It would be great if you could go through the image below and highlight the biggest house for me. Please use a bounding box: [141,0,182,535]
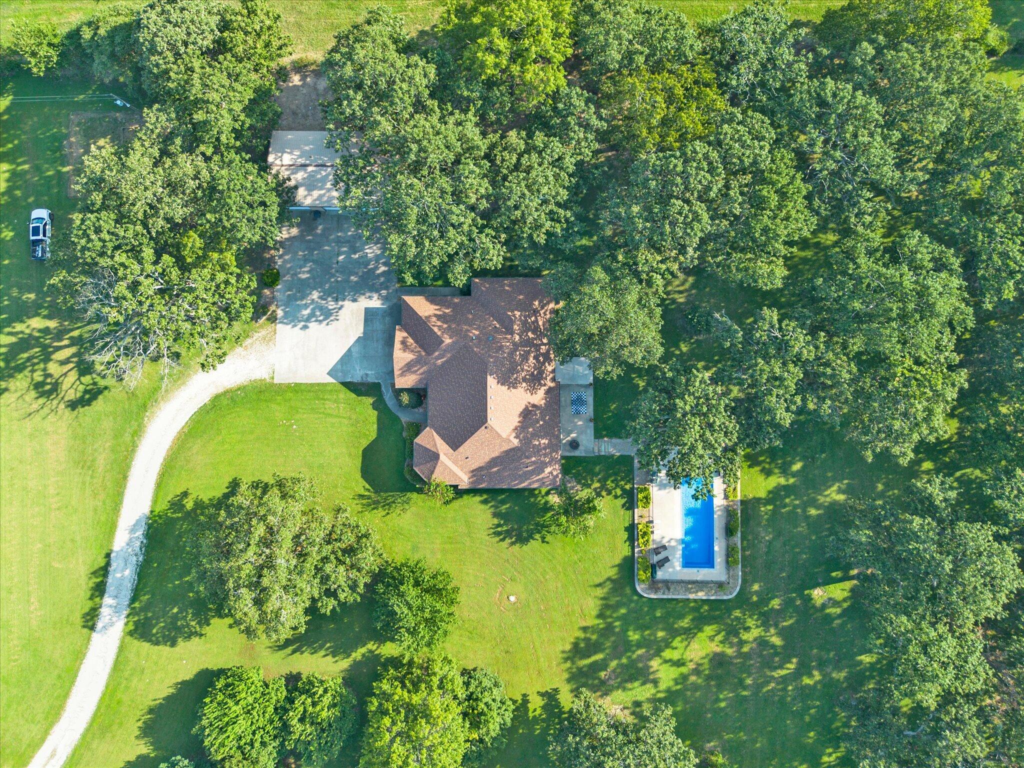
[392,277,561,489]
